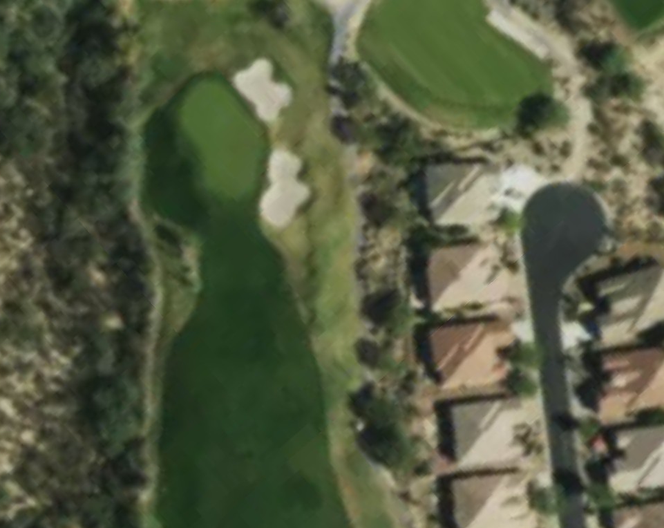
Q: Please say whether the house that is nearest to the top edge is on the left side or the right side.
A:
right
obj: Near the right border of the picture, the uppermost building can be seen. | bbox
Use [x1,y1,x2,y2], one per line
[593,267,664,343]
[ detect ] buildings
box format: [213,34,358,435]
[449,402,528,466]
[615,505,664,528]
[598,349,664,420]
[611,429,664,492]
[453,475,536,528]
[426,243,507,314]
[593,267,664,343]
[424,164,499,230]
[431,323,514,389]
